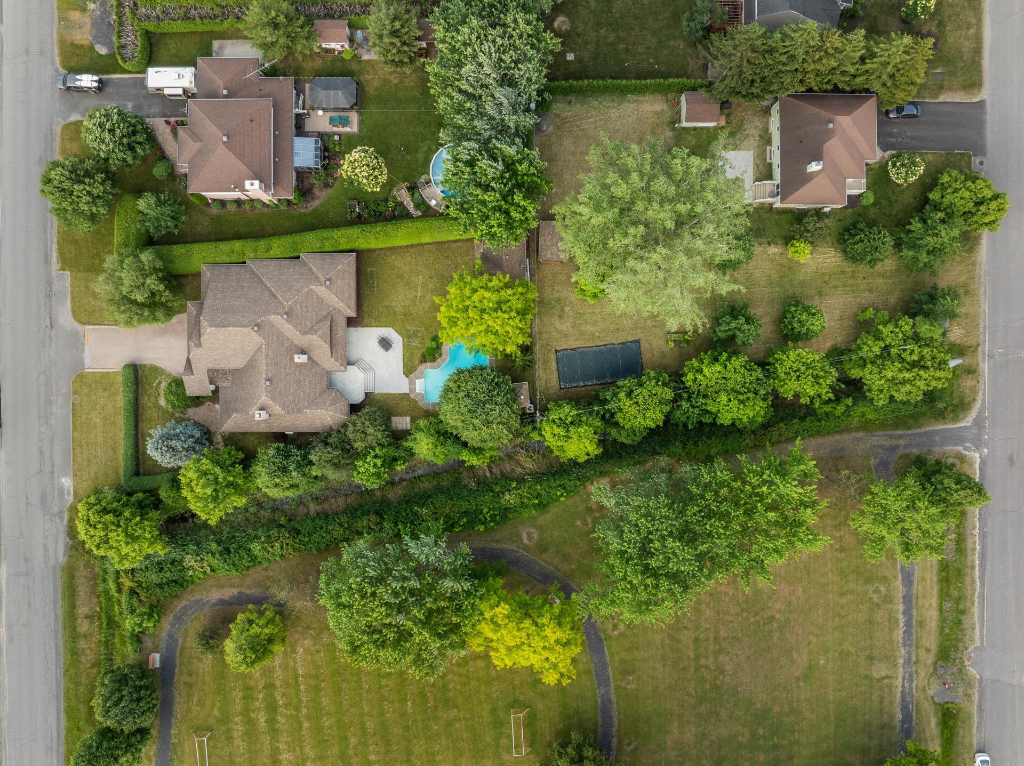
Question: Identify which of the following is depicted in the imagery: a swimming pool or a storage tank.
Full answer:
The one in the frame is a swimming pool.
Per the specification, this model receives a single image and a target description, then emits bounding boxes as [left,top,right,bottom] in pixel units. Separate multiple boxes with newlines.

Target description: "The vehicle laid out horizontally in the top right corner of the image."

[882,101,923,120]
